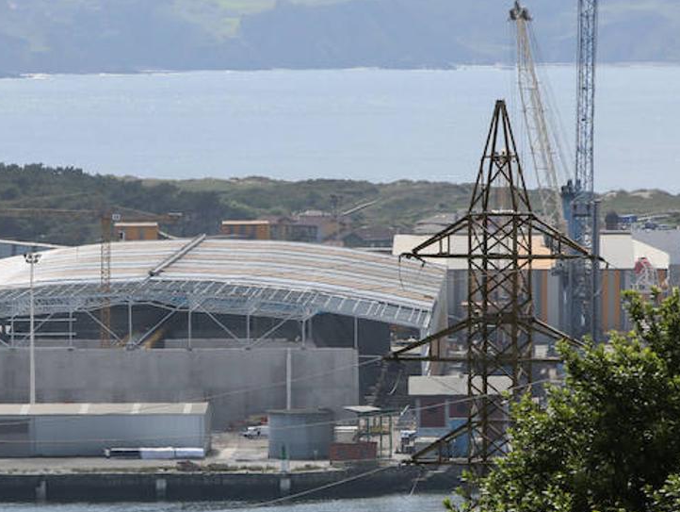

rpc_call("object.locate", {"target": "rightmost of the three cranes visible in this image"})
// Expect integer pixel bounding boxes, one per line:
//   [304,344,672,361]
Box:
[564,0,603,367]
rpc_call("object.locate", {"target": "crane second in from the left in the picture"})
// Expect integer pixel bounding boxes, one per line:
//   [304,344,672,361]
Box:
[510,0,573,354]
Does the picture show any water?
Yes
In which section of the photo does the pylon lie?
right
